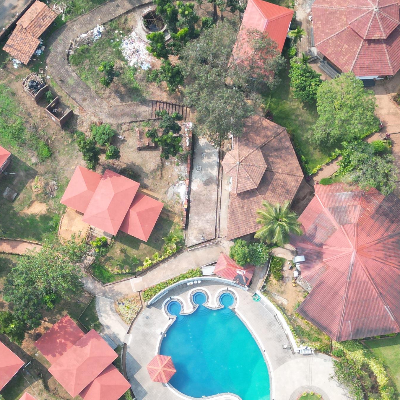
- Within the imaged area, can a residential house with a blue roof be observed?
No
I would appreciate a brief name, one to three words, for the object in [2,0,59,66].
shed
